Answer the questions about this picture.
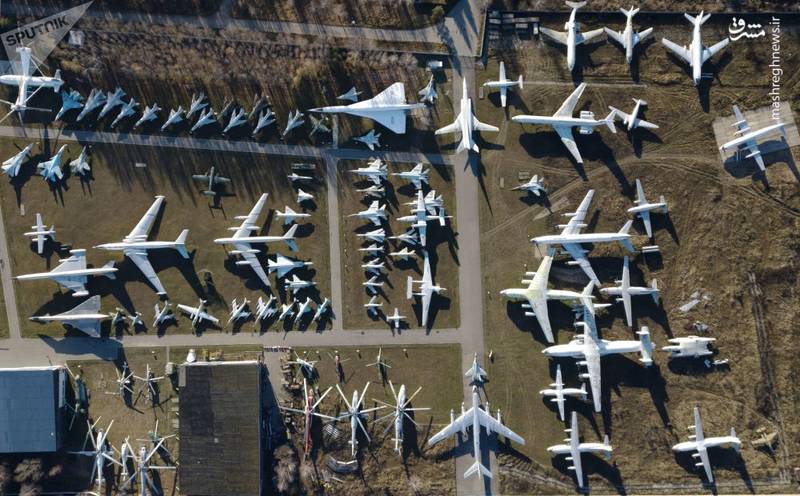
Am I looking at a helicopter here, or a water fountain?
helicopter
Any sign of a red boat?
No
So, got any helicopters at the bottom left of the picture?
Yes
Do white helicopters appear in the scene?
Yes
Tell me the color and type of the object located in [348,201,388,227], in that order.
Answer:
white airplane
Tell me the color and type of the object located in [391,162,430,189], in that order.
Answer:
white airplane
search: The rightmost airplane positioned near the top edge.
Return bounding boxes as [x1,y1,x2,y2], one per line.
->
[666,11,733,85]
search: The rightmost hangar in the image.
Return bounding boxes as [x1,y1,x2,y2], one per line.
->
[179,360,263,496]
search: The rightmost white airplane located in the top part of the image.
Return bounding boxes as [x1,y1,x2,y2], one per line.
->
[722,104,790,171]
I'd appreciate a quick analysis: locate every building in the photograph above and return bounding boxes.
[179,360,263,496]
[0,366,66,453]
[70,31,86,48]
